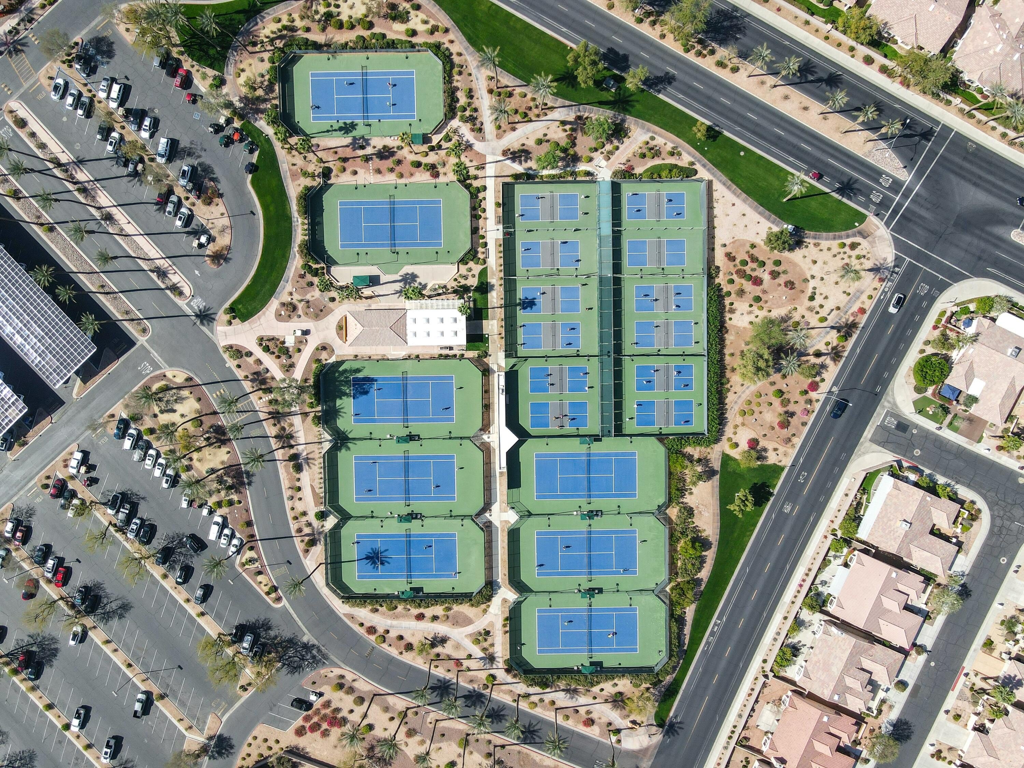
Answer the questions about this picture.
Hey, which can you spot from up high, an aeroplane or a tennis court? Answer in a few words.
tennis court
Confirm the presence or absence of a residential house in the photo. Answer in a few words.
Yes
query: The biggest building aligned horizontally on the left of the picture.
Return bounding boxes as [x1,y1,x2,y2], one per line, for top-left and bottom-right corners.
[347,309,466,347]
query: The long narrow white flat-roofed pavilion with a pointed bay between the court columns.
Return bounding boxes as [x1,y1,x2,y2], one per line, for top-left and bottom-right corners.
[498,372,519,470]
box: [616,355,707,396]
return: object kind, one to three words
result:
sports court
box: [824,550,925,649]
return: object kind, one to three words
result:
house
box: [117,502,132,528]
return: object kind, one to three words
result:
vehicle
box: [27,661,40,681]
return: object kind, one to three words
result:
vehicle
